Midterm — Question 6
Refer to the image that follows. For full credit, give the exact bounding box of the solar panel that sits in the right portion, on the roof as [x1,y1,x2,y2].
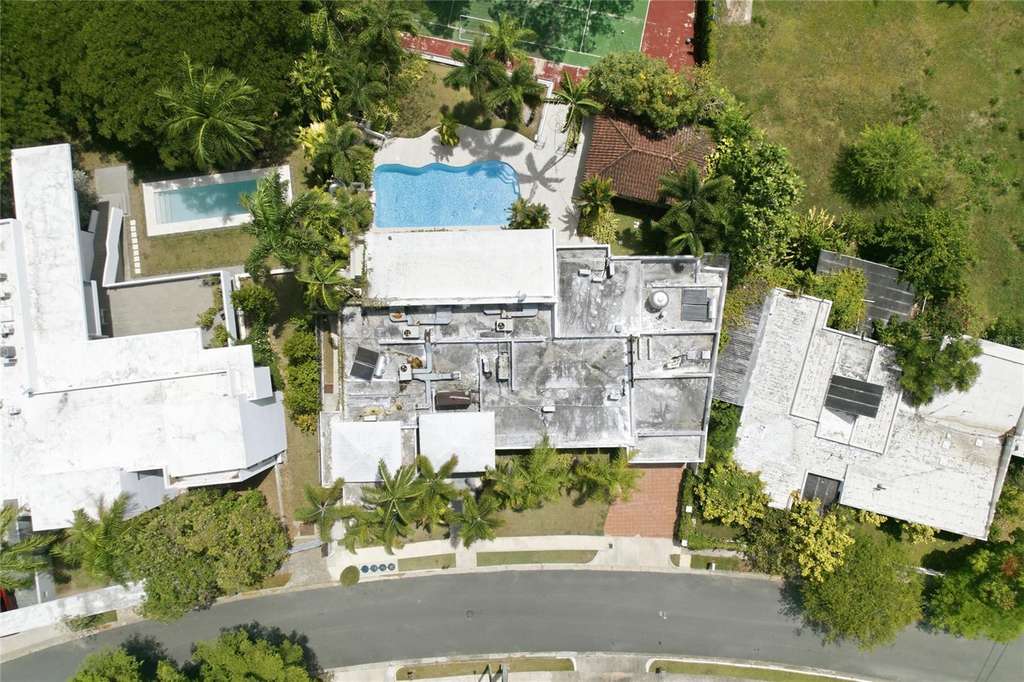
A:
[820,374,889,419]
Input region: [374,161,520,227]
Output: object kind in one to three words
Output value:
swimming pool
